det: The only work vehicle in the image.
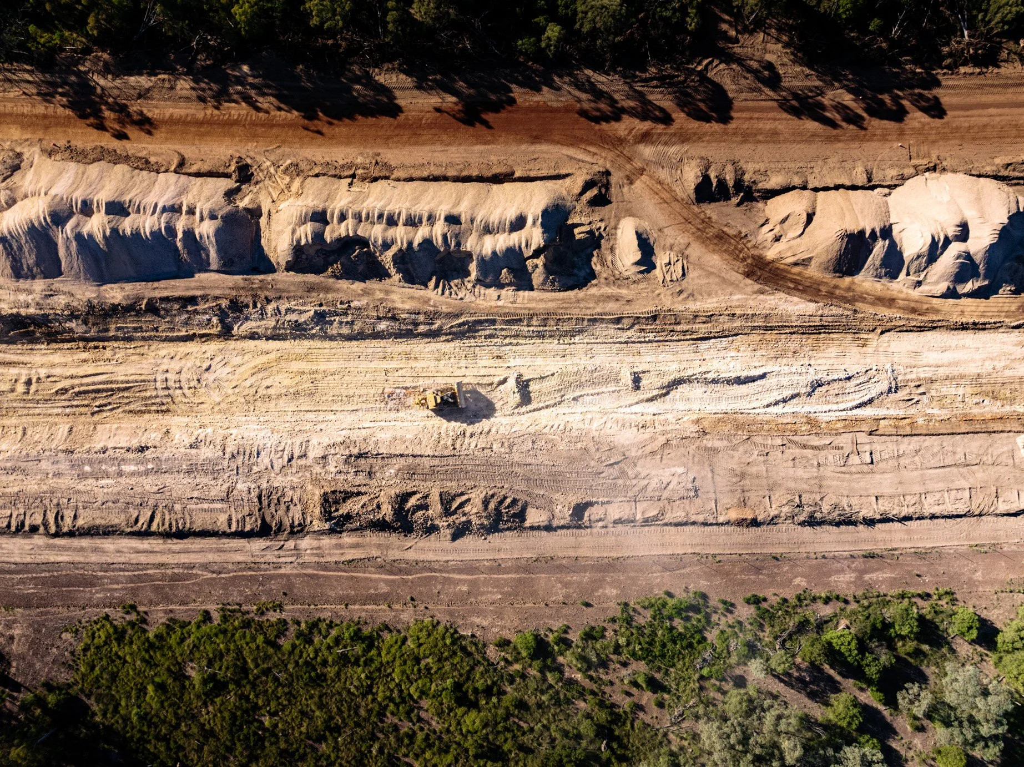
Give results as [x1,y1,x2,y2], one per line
[418,381,464,409]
